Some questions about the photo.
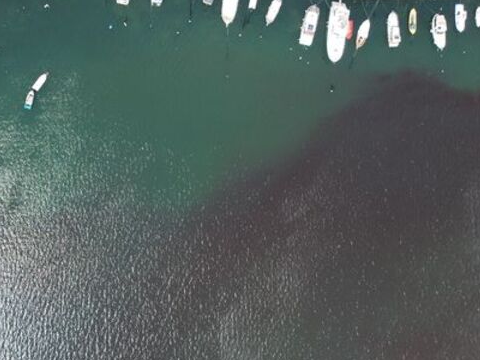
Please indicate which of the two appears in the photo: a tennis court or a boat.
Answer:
boat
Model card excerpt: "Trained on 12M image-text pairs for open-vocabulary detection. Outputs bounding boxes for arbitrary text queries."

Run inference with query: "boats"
[202,0,215,7]
[33,70,49,92]
[266,0,283,28]
[348,21,354,40]
[385,0,402,47]
[297,0,321,47]
[352,0,378,60]
[24,90,36,110]
[431,9,449,52]
[408,8,417,36]
[221,0,240,26]
[325,0,350,62]
[453,0,468,32]
[243,0,259,28]
[474,3,480,29]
